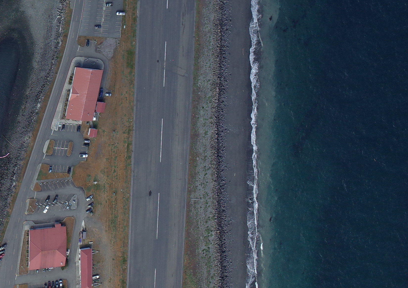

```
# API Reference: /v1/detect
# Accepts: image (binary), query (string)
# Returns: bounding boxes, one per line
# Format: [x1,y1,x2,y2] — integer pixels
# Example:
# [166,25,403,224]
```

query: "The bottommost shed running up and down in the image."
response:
[79,247,92,288]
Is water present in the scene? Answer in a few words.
Yes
